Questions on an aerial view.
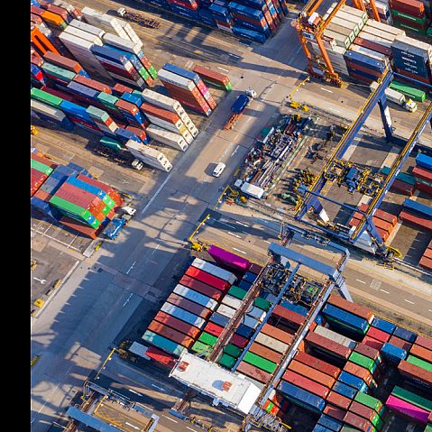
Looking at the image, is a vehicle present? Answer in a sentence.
Yes, the image includes a vehicle.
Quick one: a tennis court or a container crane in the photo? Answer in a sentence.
Looking from above, you can make out a container crane.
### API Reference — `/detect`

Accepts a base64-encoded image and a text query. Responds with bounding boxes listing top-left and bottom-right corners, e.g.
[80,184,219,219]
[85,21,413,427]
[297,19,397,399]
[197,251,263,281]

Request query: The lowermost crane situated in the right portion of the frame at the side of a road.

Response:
[166,224,357,432]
